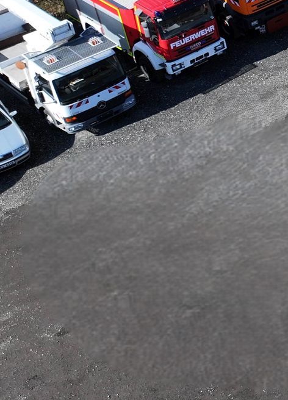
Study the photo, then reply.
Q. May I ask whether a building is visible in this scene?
No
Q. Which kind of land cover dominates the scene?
paved ground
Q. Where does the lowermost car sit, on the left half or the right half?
left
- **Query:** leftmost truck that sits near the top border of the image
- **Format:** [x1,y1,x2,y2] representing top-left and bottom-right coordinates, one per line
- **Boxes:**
[0,0,131,135]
